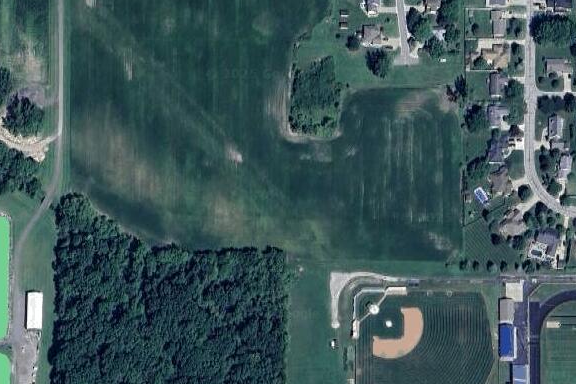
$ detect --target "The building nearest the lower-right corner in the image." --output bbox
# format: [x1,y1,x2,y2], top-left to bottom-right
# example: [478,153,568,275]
[499,322,514,357]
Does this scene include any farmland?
Yes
